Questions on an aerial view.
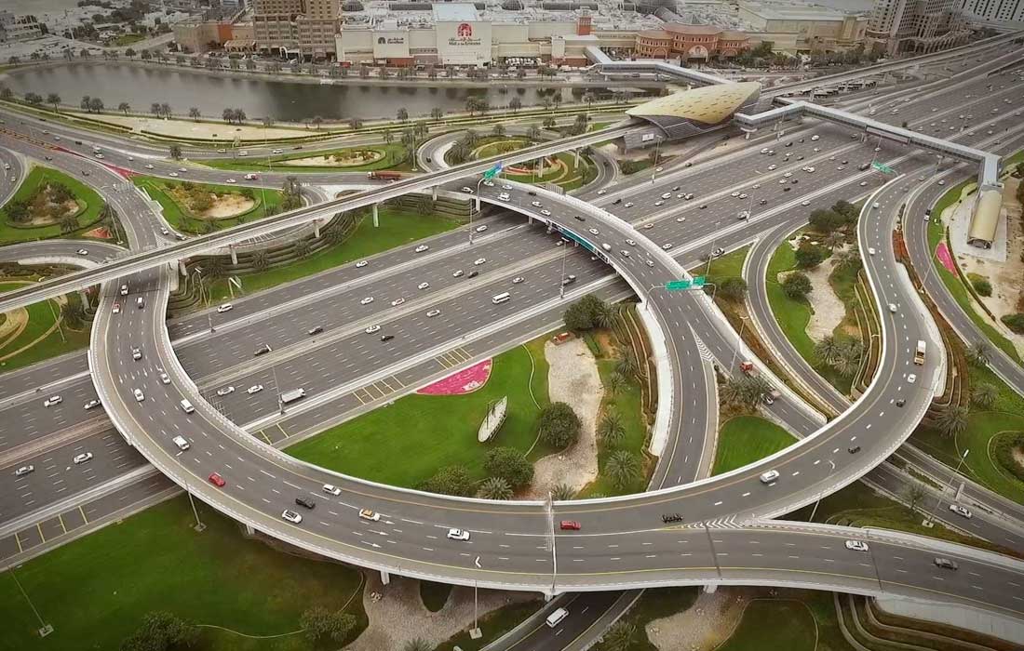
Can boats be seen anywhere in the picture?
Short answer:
Yes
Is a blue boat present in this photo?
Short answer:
No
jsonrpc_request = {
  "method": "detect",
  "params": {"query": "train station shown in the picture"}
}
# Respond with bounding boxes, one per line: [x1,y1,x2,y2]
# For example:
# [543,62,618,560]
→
[607,81,760,151]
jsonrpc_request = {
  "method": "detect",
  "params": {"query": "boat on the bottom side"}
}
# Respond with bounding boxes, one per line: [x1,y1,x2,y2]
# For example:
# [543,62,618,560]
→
[477,398,506,446]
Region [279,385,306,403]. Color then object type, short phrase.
white vehicle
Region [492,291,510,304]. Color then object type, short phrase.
white vehicle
